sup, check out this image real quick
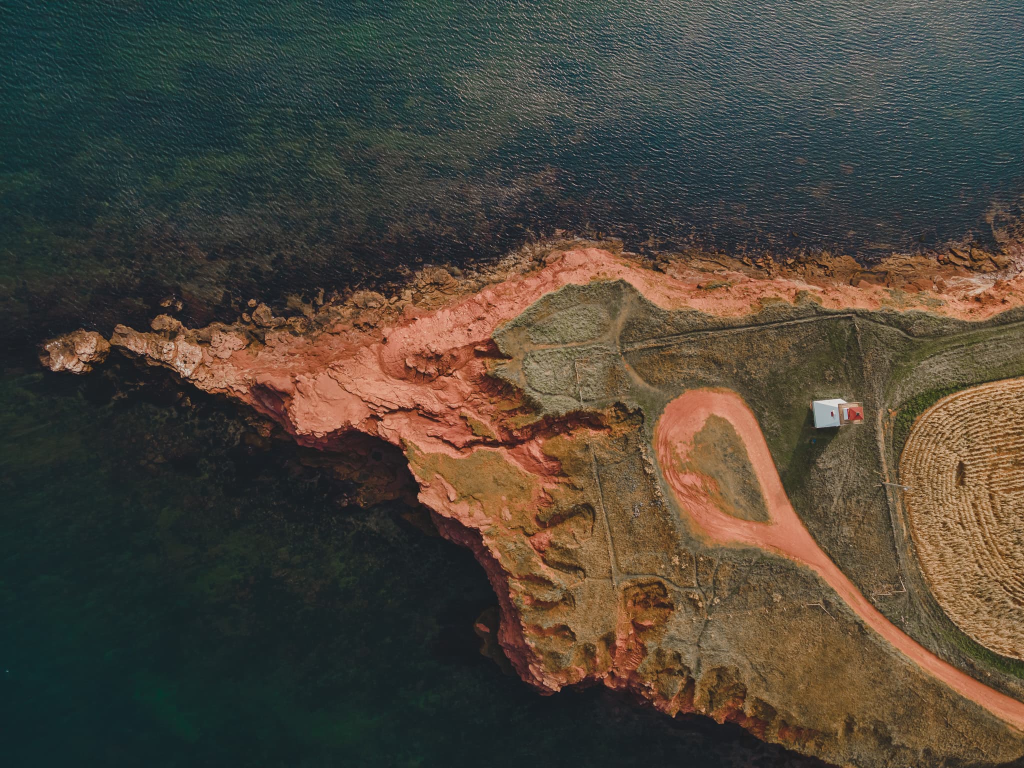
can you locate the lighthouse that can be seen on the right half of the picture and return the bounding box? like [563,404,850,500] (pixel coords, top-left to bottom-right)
[812,398,866,429]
